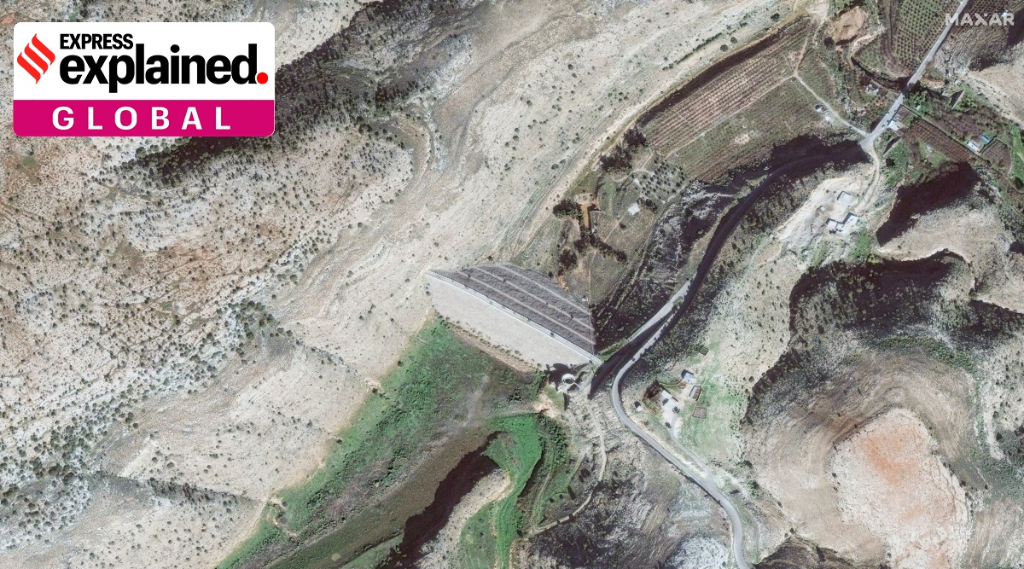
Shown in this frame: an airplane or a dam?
dam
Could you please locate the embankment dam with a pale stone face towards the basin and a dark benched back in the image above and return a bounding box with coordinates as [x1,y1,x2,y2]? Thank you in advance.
[425,263,601,367]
